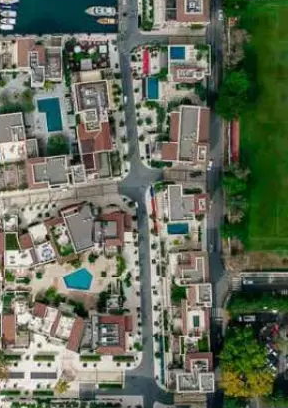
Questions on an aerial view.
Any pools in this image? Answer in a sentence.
Yes, you can see a pool in this photo.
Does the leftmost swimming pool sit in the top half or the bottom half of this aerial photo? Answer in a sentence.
The leftmost swimming pool sits in the top half of the picture.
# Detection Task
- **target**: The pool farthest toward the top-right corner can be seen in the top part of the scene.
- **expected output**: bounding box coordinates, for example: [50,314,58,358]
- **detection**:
[170,47,187,60]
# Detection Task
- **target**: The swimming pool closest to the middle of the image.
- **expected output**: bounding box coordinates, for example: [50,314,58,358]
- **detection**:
[167,222,190,235]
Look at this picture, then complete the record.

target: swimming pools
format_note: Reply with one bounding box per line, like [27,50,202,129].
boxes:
[62,266,95,292]
[36,95,65,134]
[147,77,160,100]
[170,47,187,60]
[167,222,190,235]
